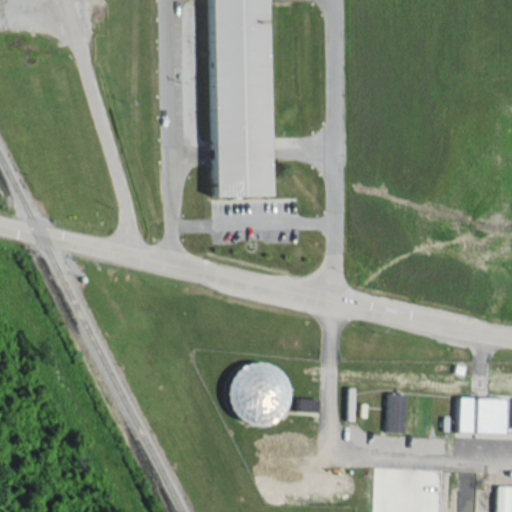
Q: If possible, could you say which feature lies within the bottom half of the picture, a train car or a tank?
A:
tank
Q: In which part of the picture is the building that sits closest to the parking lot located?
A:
top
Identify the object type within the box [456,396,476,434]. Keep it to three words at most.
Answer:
building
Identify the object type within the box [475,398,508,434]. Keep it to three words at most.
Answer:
building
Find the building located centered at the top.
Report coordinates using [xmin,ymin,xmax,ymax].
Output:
[207,0,276,203]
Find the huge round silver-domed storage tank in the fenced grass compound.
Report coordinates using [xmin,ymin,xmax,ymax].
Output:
[226,361,294,429]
